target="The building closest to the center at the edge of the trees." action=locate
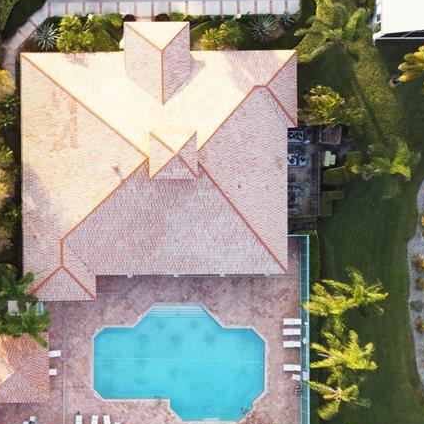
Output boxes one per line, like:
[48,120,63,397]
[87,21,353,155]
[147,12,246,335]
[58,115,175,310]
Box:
[20,21,298,300]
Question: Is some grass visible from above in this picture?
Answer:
Yes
